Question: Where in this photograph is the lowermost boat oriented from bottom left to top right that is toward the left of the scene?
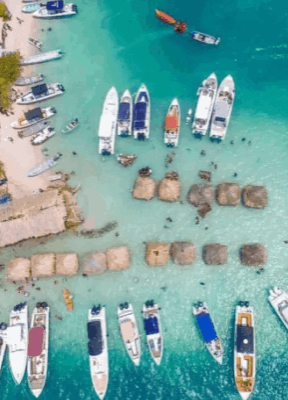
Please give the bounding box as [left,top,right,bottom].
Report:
[28,154,64,176]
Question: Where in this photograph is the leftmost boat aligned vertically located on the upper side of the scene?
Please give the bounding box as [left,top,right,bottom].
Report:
[98,86,119,159]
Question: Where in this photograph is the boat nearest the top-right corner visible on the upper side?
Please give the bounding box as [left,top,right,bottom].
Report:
[194,32,224,47]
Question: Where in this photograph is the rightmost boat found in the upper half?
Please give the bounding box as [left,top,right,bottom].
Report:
[210,74,234,145]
